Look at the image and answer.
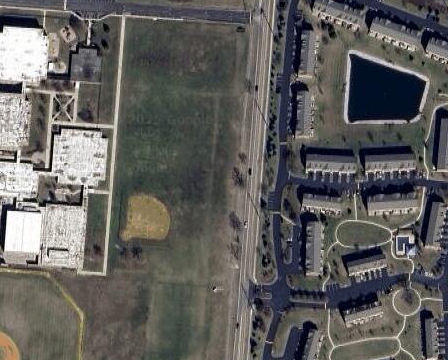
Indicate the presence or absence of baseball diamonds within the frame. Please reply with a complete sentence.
Yes, there's a baseball diamond here.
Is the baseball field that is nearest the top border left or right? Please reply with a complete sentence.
The baseball field that is nearest the top border appears in the left half of the scene.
